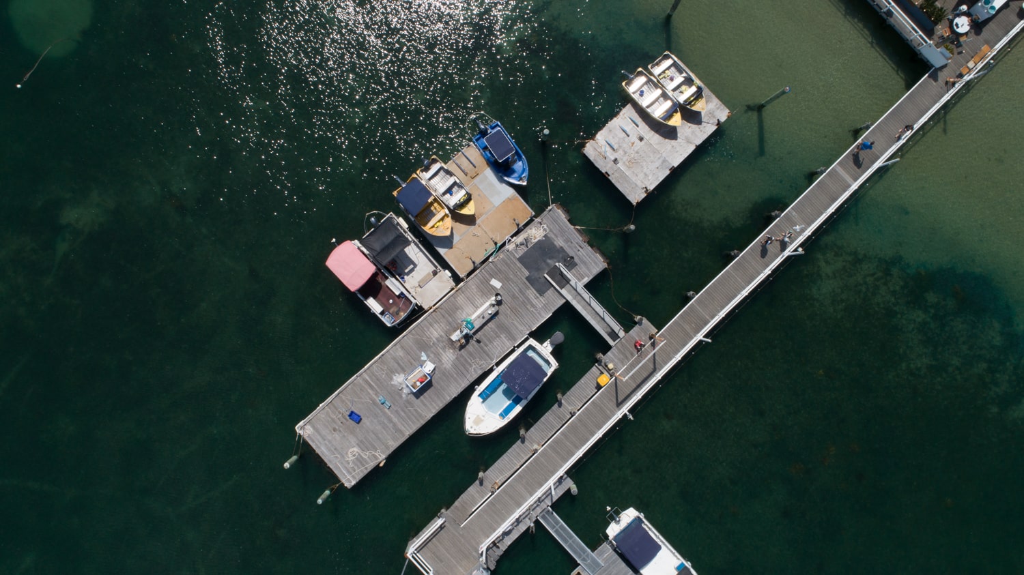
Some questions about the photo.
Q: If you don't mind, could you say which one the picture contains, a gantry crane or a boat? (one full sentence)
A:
Visible in the photo is a boat.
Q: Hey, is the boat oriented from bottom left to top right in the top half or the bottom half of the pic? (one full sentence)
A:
The boat oriented from bottom left to top right sits in the bottom half of the picture.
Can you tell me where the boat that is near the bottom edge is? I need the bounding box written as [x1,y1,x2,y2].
[602,502,697,575]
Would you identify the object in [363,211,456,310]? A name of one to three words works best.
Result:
vessel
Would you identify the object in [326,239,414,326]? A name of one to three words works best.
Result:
boat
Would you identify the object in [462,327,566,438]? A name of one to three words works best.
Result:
boat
